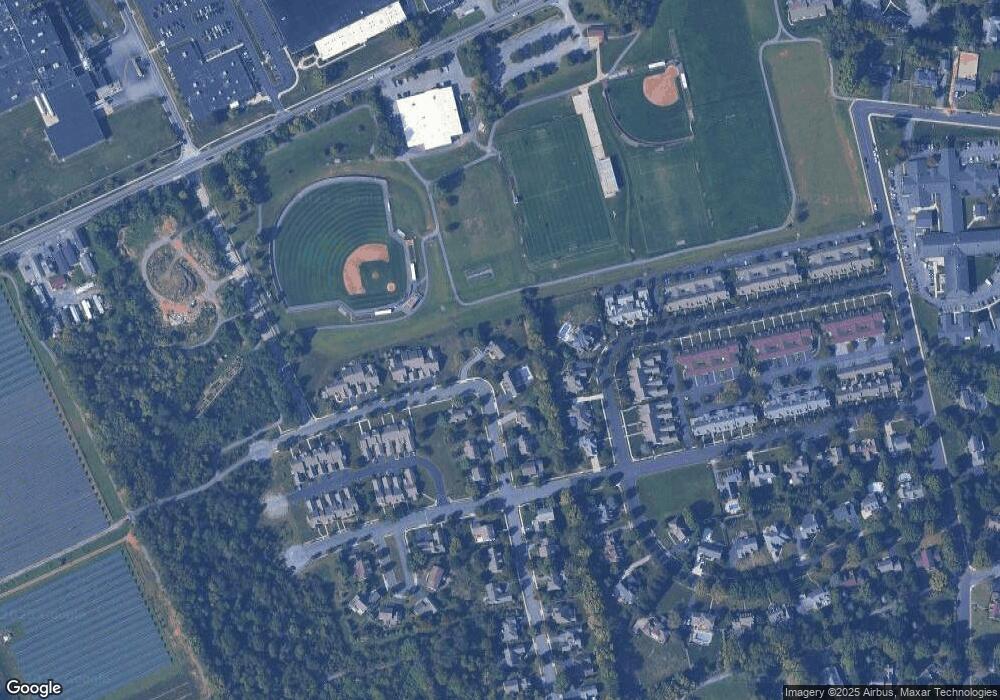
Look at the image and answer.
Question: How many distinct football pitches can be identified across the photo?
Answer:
three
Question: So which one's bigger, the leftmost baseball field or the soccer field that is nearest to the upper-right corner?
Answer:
the baseball field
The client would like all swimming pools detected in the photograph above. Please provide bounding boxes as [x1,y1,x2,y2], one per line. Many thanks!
[725,499,742,514]
[691,632,713,643]
[559,321,571,341]
[519,365,532,380]
[899,473,910,481]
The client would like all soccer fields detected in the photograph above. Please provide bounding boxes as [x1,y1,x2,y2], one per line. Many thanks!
[701,111,783,232]
[628,142,708,251]
[509,124,603,260]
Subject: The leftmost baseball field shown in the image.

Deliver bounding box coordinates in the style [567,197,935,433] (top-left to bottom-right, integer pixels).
[273,177,411,312]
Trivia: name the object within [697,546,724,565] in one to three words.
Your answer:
house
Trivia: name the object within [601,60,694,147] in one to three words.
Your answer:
baseball field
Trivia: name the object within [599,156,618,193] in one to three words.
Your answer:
building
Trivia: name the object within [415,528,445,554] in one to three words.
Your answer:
house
